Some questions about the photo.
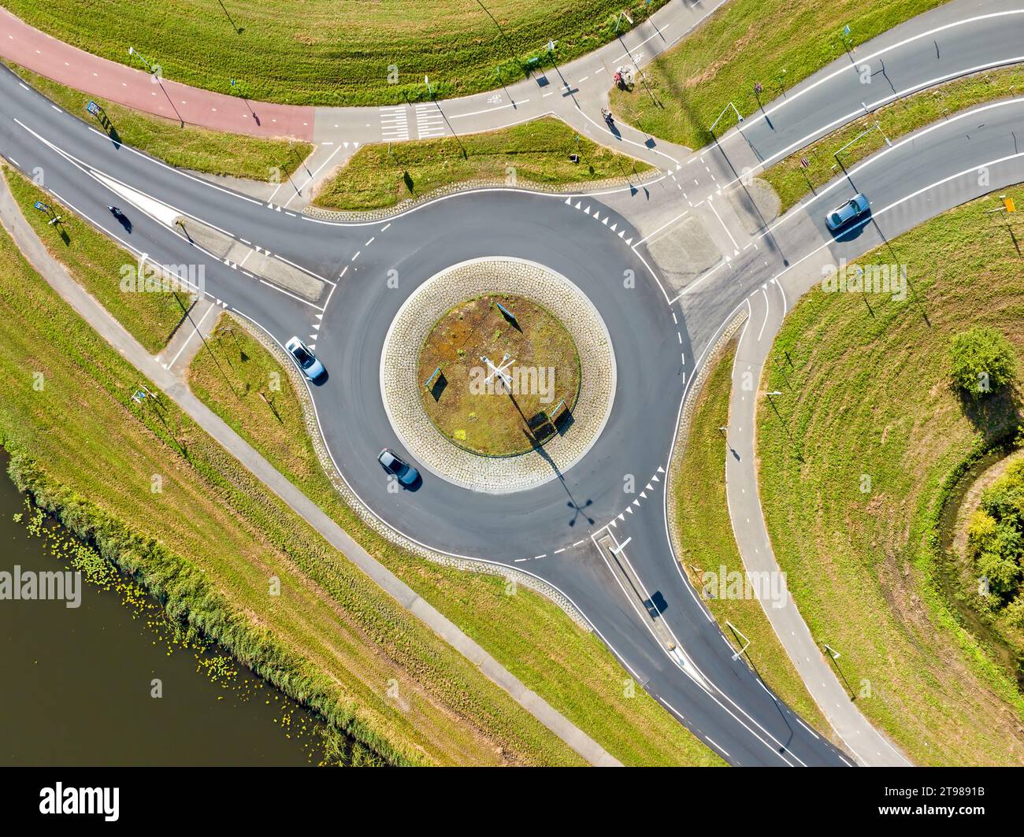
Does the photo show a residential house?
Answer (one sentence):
No, there isn't any residential house down there.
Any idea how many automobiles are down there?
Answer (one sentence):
My tally gives 3 automobiles in this view.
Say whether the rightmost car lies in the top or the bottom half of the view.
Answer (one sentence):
The rightmost car is in the top half of the image.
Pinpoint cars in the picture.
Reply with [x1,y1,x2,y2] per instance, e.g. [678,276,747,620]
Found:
[377,446,421,489]
[282,336,326,383]
[823,192,872,230]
